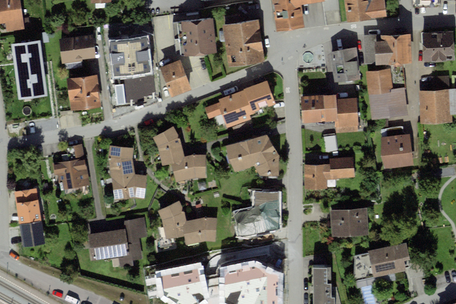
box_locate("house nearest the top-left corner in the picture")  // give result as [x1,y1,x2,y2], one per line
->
[0,0,30,32]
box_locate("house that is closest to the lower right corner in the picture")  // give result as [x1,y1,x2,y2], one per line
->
[352,242,410,288]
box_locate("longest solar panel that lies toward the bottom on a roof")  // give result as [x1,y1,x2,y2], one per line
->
[92,244,127,258]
